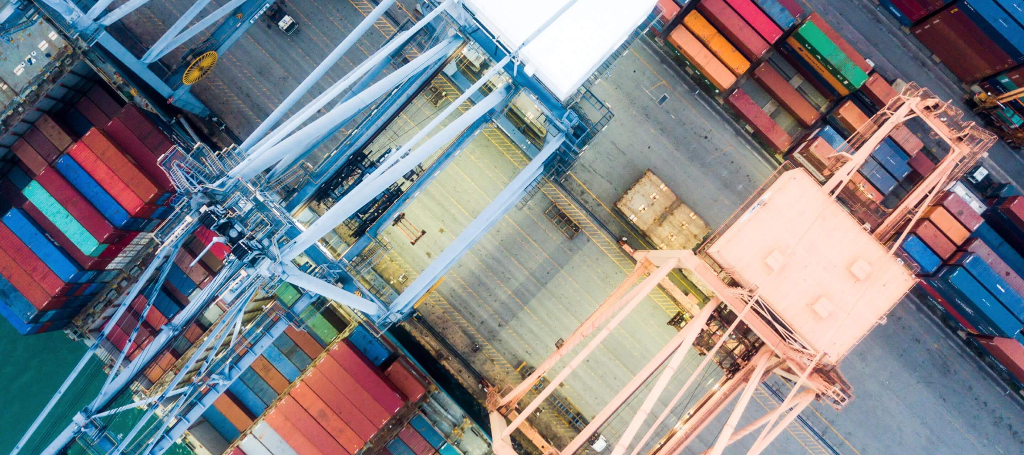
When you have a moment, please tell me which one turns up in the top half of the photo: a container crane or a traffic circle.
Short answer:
container crane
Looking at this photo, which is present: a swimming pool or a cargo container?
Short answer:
cargo container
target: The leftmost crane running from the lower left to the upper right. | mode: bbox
[12,0,675,455]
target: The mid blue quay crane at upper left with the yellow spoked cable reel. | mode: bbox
[0,0,292,128]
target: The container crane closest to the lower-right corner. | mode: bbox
[476,69,1003,455]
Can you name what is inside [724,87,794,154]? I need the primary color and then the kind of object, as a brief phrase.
red shipping container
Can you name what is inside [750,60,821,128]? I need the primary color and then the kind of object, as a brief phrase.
red shipping container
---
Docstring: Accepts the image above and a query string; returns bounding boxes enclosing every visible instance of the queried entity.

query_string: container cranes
[476,69,1003,455]
[0,0,292,128]
[12,0,675,455]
